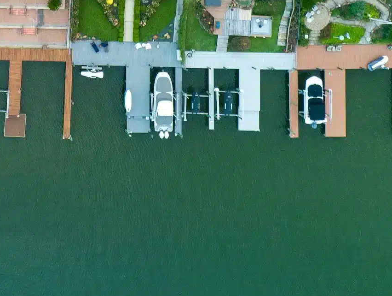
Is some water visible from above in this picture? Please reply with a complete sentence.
Yes, the picture does contain water.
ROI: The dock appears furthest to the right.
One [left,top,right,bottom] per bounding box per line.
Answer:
[279,45,392,137]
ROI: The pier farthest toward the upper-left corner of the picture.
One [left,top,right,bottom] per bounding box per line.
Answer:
[0,47,74,141]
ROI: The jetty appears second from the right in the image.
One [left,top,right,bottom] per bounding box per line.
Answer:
[185,52,295,131]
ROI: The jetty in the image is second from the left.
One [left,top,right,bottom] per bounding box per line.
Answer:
[72,43,188,138]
